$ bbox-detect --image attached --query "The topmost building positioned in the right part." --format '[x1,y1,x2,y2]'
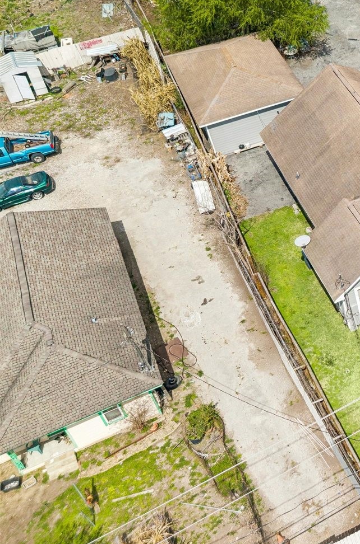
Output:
[157,30,305,153]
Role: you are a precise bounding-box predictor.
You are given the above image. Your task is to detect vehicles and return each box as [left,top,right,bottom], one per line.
[0,165,54,205]
[0,129,56,166]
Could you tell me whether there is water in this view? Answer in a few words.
No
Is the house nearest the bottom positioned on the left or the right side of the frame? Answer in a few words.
left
